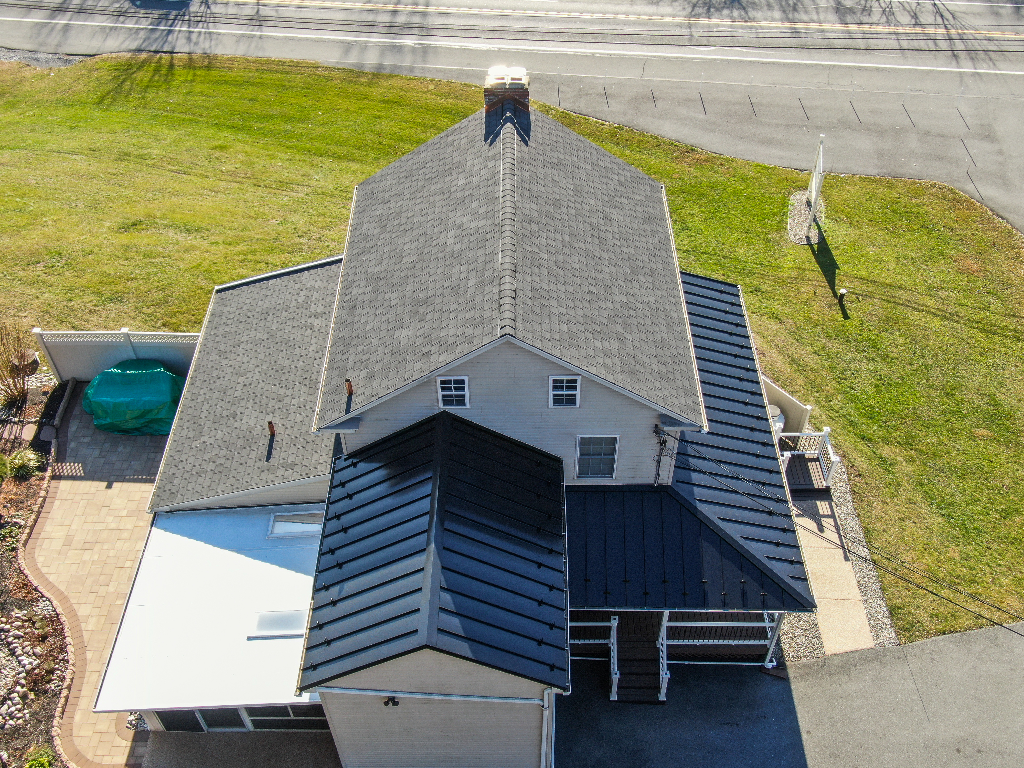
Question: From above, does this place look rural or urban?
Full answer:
From above, the setting appears urban.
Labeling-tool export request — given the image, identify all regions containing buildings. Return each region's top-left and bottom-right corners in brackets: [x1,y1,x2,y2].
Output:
[87,63,840,768]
